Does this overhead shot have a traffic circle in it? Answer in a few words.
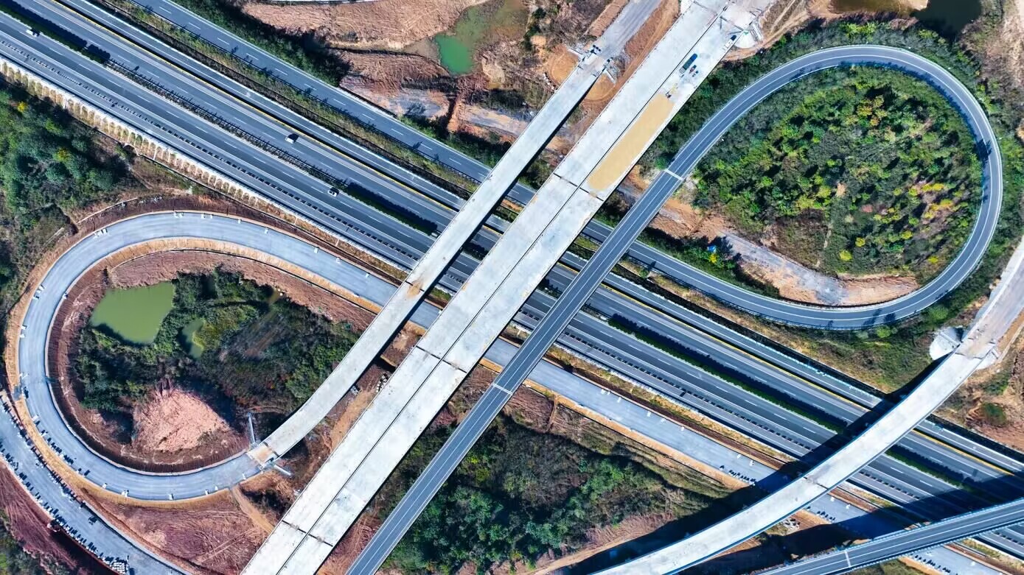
No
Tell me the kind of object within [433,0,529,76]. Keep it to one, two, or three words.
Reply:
pond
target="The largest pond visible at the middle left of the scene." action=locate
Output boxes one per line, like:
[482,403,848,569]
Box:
[89,282,176,345]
